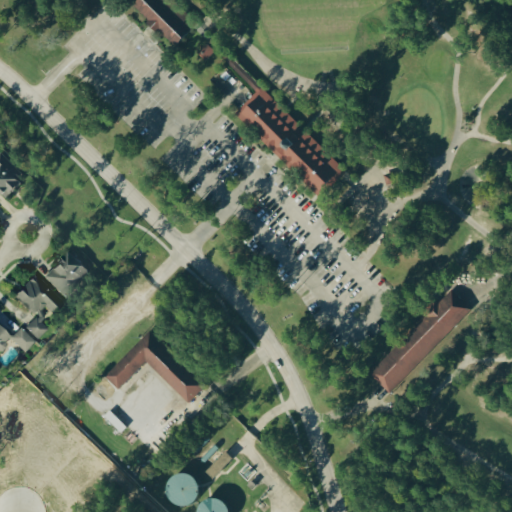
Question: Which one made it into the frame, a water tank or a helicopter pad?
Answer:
water tank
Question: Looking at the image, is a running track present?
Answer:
No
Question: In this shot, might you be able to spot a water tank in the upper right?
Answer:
No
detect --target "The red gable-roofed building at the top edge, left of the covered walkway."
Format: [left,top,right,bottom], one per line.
[128,0,188,45]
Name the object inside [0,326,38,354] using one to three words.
house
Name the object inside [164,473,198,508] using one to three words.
water tank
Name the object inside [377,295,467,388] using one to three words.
building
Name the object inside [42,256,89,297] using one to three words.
house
